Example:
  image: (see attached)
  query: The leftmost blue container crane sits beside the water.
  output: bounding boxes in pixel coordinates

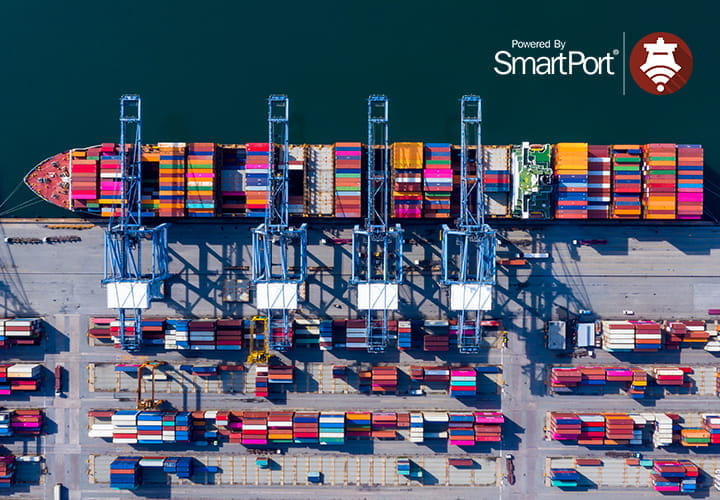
[102,93,182,353]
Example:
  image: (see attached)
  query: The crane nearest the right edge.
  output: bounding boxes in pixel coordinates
[430,93,497,353]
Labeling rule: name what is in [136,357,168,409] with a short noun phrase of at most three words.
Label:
container crane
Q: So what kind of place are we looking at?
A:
port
